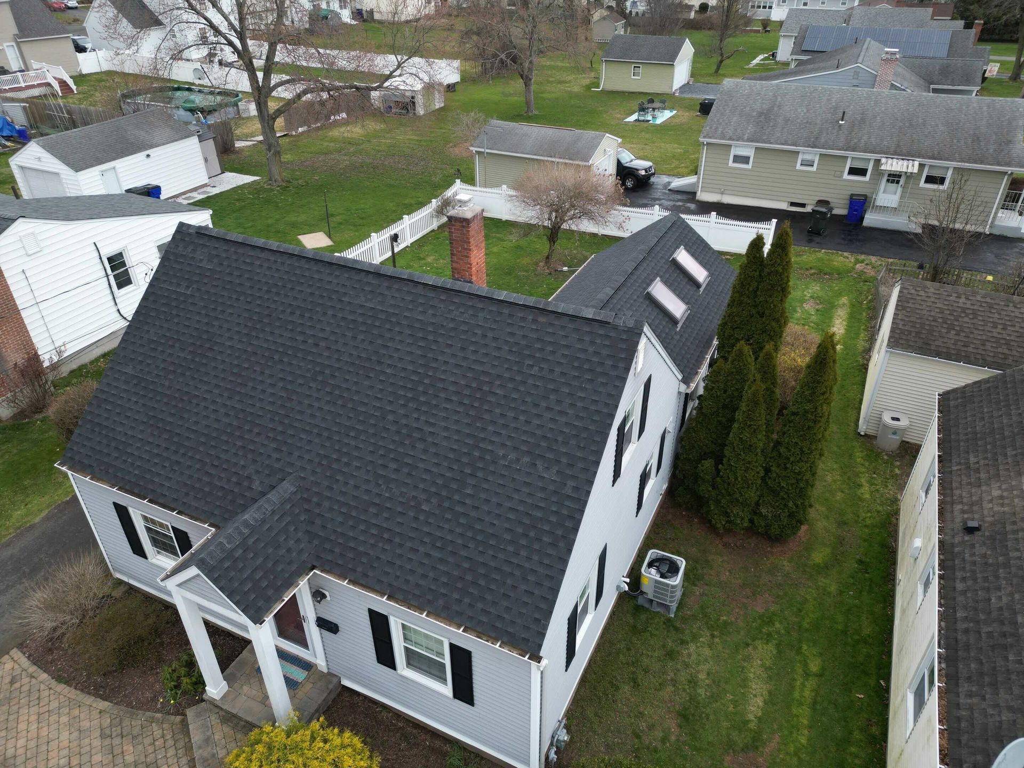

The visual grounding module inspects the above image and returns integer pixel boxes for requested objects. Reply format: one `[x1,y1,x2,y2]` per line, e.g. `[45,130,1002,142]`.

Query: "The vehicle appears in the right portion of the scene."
[604,142,660,188]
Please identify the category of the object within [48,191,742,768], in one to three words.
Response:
house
